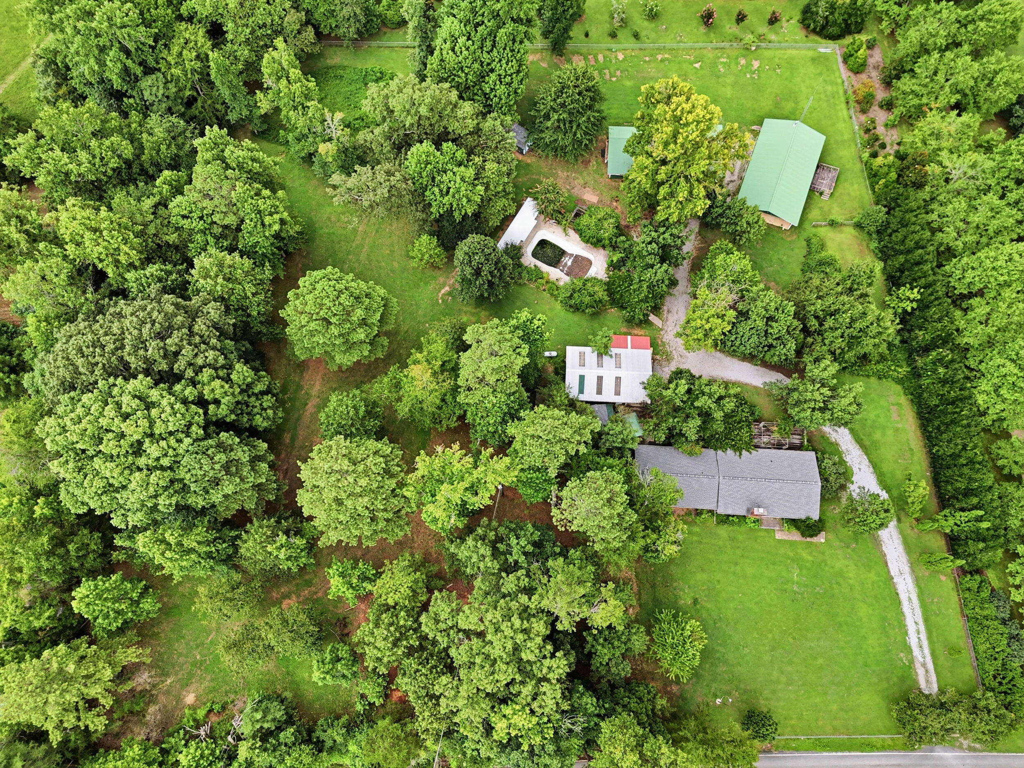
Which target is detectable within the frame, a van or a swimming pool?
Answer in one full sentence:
The one in the frame is a swimming pool.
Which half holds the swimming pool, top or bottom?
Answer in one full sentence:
The top half of the photo is where the swimming pool is.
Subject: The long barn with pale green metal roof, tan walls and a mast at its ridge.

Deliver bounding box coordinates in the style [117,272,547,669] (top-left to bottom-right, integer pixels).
[735,117,825,234]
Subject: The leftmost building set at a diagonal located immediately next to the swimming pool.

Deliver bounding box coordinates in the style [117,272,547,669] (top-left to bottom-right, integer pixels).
[497,197,538,256]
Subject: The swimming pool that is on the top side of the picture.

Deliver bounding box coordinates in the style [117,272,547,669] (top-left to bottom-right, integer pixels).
[527,229,597,280]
